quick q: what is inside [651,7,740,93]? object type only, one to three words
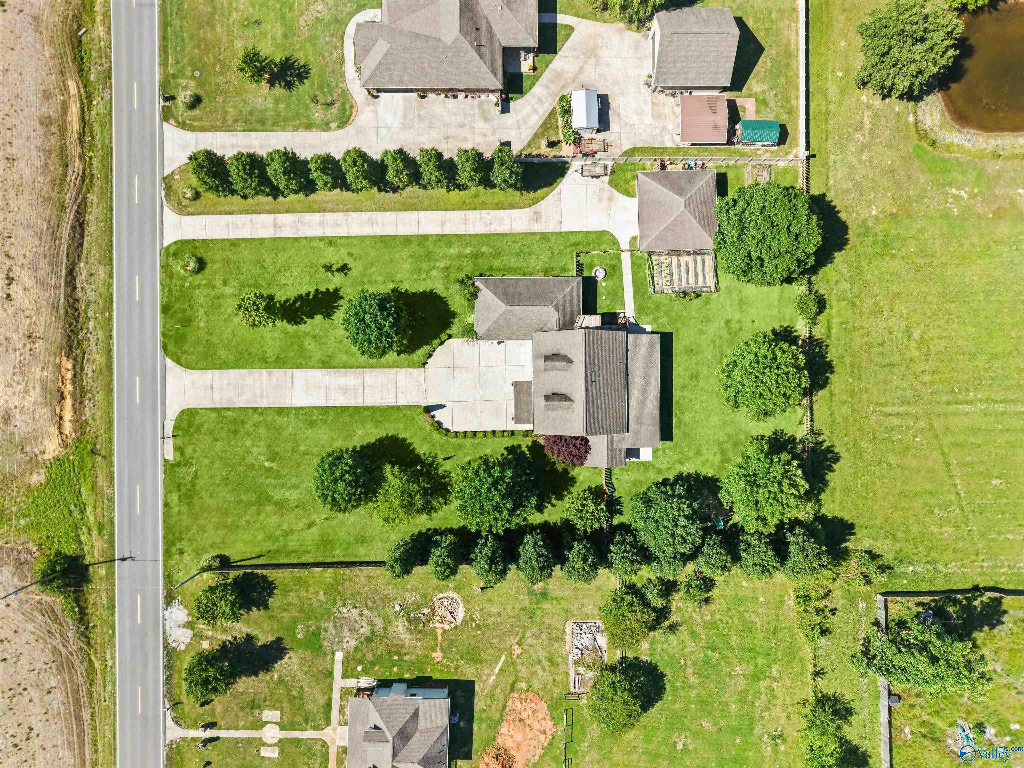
building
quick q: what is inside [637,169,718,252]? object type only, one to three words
building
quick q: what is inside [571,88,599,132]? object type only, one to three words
shed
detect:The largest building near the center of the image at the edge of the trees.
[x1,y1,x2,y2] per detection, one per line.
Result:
[474,276,661,468]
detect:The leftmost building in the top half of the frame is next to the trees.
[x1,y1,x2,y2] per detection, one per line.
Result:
[353,0,538,114]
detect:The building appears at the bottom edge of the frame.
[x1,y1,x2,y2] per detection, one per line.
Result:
[346,683,450,768]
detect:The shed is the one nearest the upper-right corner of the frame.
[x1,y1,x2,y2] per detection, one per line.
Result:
[736,119,780,146]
